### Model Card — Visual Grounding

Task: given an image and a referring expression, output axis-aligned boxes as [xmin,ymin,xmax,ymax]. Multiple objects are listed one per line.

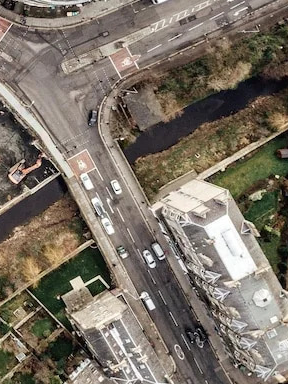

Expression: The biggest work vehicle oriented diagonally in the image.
[7,148,50,186]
